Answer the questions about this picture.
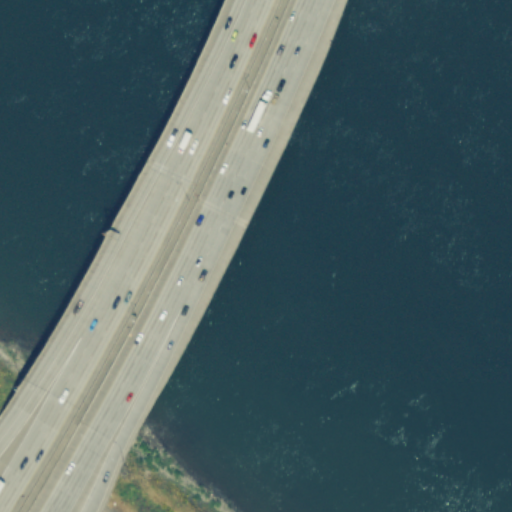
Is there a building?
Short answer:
No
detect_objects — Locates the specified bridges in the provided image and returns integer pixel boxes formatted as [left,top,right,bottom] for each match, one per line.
[0,0,348,512]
